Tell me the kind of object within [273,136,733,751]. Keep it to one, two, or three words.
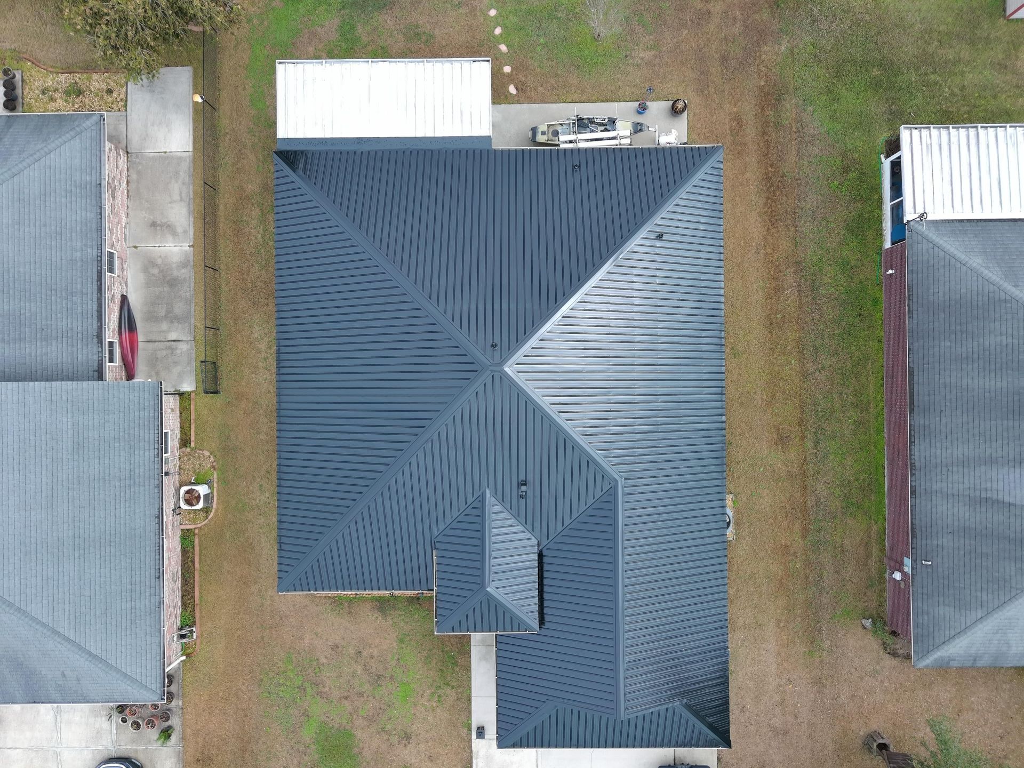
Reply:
house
